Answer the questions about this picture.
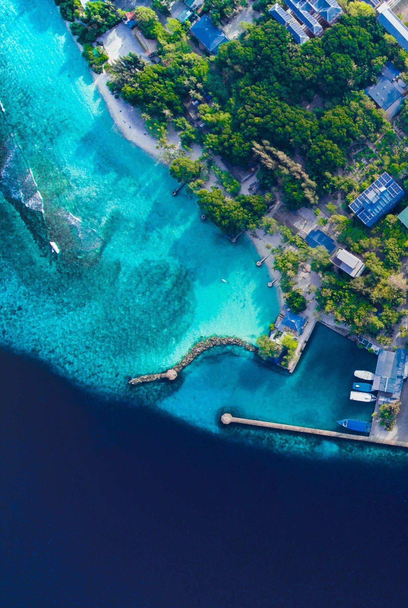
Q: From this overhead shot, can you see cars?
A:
No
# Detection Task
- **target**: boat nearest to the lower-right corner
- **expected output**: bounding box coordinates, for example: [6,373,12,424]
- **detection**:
[336,419,371,432]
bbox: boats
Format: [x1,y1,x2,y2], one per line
[349,393,377,403]
[352,383,372,392]
[336,419,371,432]
[353,370,375,380]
